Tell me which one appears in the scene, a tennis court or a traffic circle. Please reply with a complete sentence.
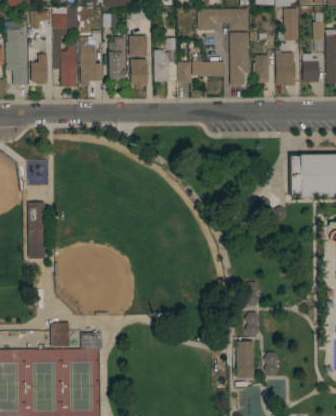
It is a tennis court that can be seen here.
